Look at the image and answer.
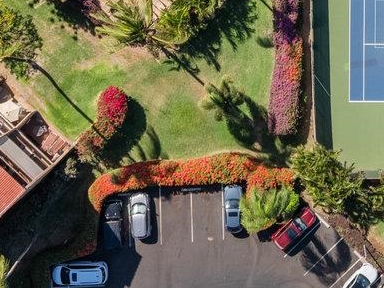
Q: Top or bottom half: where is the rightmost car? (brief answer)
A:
bottom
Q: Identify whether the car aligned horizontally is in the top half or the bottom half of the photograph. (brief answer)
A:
bottom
